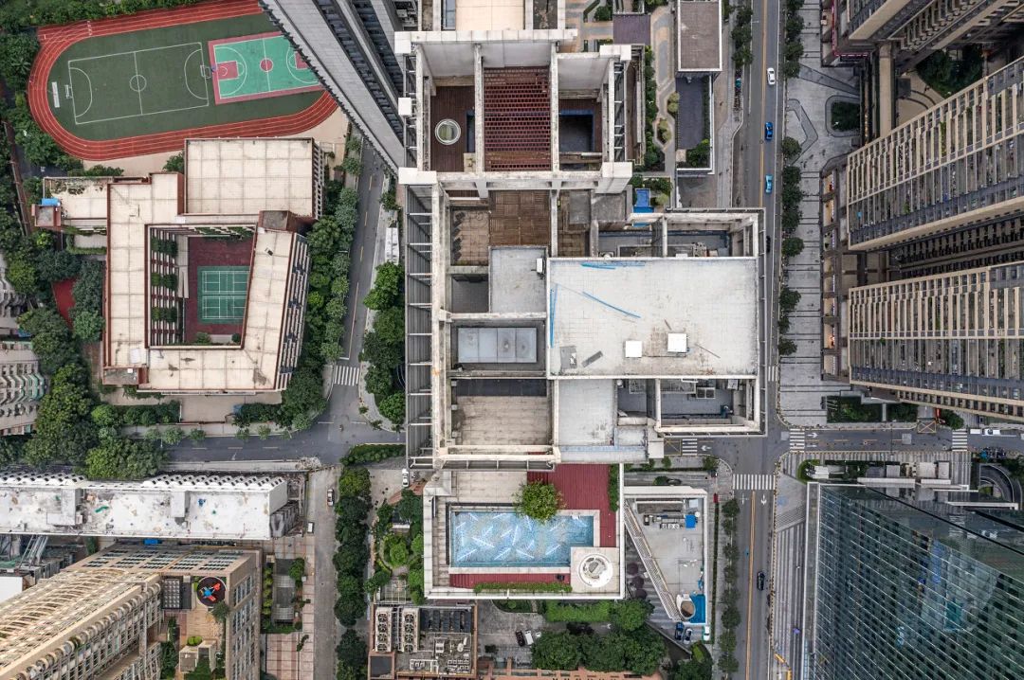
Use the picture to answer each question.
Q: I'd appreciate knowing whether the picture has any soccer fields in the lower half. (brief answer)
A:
No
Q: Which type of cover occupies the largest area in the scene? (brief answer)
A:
buildings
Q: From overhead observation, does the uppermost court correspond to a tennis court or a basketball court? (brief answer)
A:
basketball court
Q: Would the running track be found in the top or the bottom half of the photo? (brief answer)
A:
top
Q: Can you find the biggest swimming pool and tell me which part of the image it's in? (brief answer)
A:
bottom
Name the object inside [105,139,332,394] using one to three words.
building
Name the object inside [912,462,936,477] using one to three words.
shed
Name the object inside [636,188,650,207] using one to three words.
swimming pool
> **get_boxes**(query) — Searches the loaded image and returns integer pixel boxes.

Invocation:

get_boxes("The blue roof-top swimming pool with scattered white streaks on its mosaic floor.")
[448,506,602,573]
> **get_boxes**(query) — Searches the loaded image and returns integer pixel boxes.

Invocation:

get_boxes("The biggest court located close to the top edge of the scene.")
[208,31,323,103]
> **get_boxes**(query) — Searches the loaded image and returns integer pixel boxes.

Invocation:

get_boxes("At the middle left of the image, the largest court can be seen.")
[198,266,249,323]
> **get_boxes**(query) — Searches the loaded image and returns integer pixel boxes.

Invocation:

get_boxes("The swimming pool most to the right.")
[690,593,704,621]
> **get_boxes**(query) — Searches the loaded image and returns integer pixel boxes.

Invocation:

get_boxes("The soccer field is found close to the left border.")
[47,13,323,138]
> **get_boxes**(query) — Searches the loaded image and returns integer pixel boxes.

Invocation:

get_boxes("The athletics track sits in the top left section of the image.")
[28,0,336,157]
